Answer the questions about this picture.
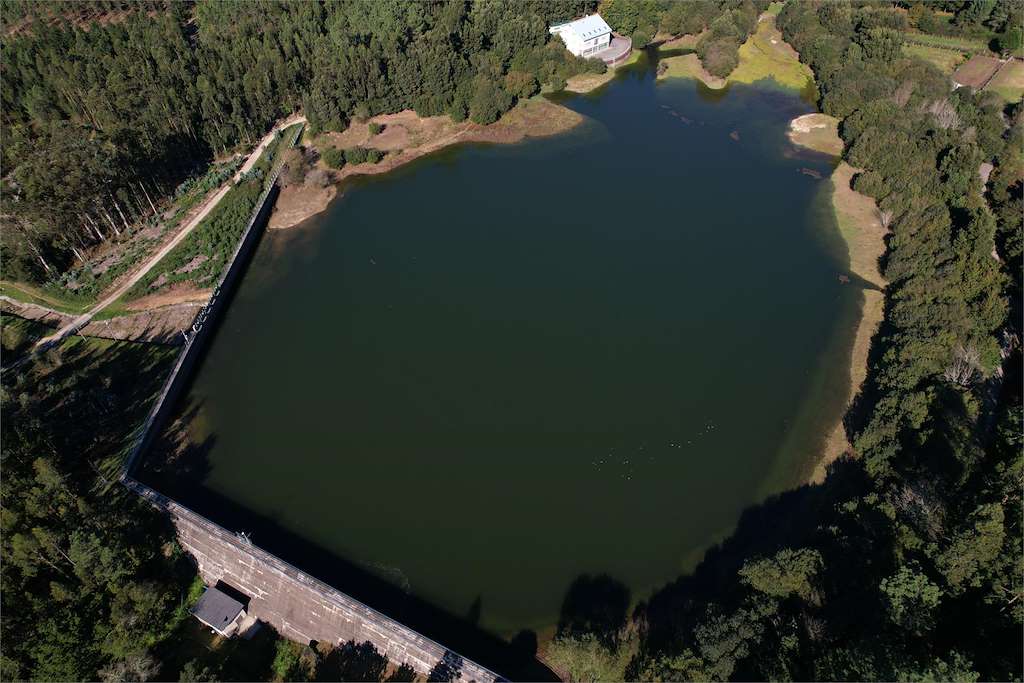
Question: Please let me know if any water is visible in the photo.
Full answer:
Yes, some water is visible.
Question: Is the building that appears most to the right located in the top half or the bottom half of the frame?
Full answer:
Seen from above, the building that appears most to the right lies in the top half of the view.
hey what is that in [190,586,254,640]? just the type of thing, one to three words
building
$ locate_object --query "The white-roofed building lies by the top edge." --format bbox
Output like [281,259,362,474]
[549,12,612,57]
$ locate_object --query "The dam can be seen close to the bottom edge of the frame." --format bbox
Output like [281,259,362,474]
[114,473,514,683]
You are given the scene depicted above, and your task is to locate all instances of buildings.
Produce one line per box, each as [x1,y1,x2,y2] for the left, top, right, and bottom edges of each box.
[190,586,254,640]
[549,12,612,57]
